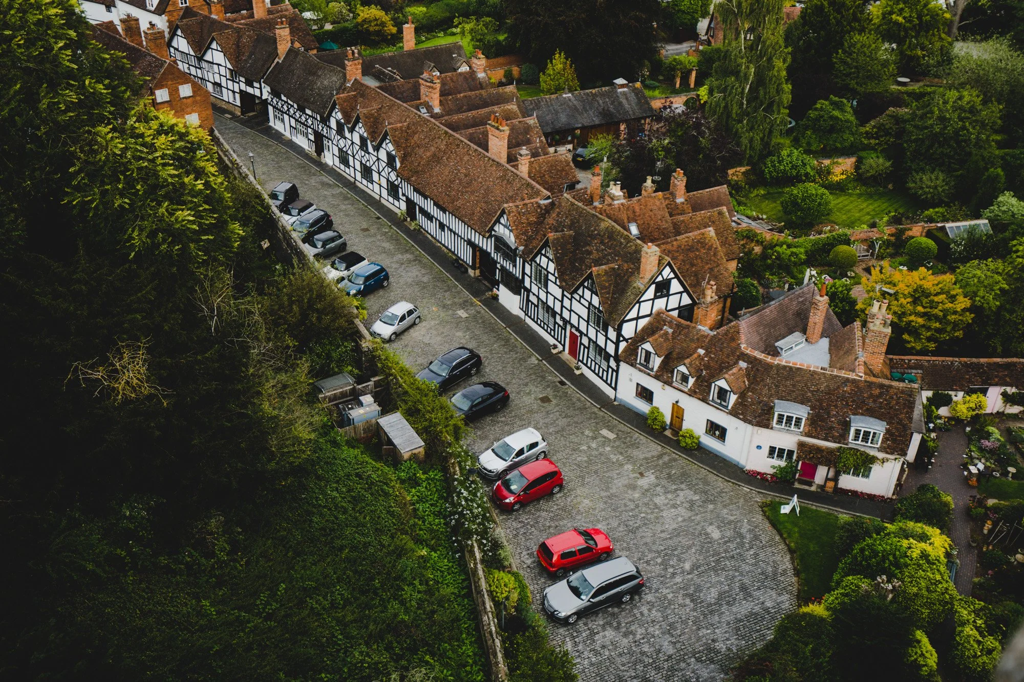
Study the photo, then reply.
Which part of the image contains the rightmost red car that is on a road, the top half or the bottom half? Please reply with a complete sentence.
You can find the rightmost red car that is on a road in the bottom half.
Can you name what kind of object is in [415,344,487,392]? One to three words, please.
car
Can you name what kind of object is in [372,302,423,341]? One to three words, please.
car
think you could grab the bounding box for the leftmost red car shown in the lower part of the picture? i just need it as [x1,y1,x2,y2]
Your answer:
[494,459,567,511]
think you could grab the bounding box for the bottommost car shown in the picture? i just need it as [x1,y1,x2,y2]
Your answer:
[541,556,644,624]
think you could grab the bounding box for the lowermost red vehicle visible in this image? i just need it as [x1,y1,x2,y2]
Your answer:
[535,526,612,577]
